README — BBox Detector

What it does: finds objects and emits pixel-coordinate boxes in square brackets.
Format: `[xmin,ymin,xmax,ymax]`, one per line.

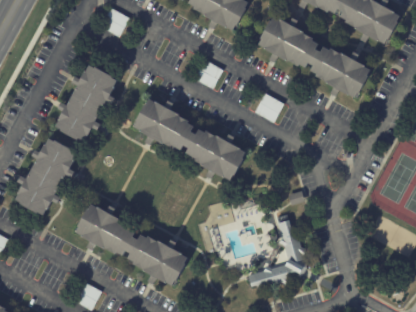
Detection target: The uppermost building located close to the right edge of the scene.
[300,0,400,44]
